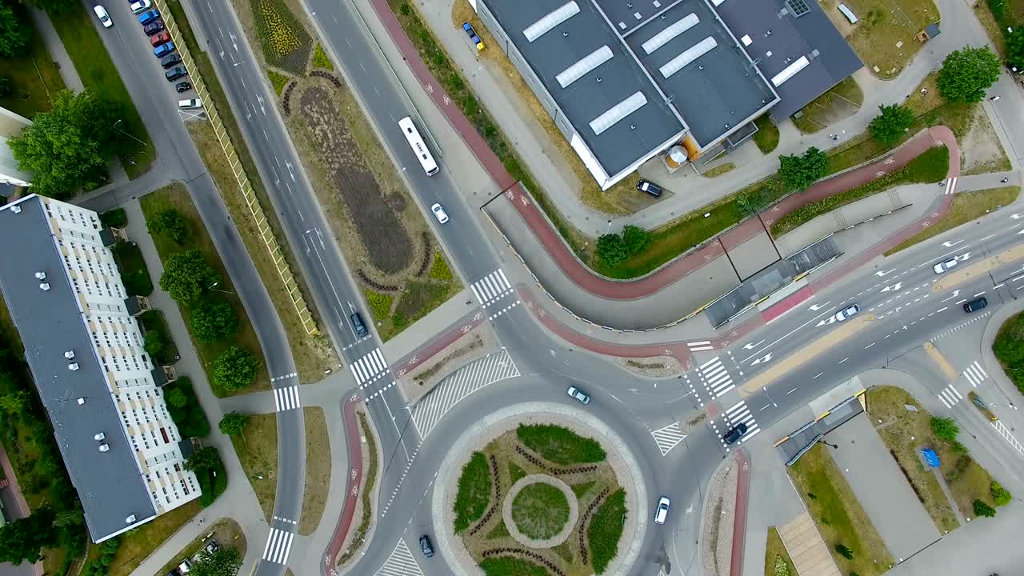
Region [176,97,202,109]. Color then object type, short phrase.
white vehicle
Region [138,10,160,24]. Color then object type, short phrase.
blue car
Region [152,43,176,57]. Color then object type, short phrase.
blue car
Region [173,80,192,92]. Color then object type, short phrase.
black vehicle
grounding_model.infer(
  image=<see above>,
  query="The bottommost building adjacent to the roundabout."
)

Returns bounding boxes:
[0,194,213,545]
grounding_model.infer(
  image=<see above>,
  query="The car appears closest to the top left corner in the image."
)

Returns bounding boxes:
[94,3,111,28]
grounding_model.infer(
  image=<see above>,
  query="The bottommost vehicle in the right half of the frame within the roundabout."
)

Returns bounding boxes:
[655,498,670,523]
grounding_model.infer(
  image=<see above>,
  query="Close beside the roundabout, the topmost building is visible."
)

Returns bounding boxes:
[465,0,865,190]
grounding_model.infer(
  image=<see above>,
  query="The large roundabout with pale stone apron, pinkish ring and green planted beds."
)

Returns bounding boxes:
[374,348,714,576]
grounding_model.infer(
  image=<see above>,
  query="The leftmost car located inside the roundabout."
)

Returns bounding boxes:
[418,533,434,559]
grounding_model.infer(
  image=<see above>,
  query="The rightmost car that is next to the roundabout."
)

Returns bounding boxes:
[722,422,747,445]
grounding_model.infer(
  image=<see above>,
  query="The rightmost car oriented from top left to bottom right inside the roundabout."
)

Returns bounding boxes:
[566,385,591,405]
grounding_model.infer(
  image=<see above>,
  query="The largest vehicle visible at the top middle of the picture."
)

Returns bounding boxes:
[395,117,443,179]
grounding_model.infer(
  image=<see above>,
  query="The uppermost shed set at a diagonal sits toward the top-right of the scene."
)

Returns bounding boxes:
[910,21,942,48]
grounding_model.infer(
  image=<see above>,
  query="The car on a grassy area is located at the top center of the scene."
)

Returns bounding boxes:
[464,24,482,48]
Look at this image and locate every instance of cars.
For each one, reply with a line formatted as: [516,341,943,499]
[163,66,187,80]
[722,422,747,445]
[430,201,449,225]
[94,3,111,28]
[961,297,989,313]
[636,181,663,197]
[129,0,152,14]
[835,303,861,321]
[138,10,160,24]
[127,0,142,6]
[173,80,192,92]
[152,43,176,57]
[159,54,181,68]
[464,24,482,48]
[418,533,434,559]
[142,21,165,35]
[932,256,959,273]
[176,97,202,109]
[566,385,591,405]
[350,310,366,337]
[148,32,171,46]
[173,556,195,576]
[655,498,670,523]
